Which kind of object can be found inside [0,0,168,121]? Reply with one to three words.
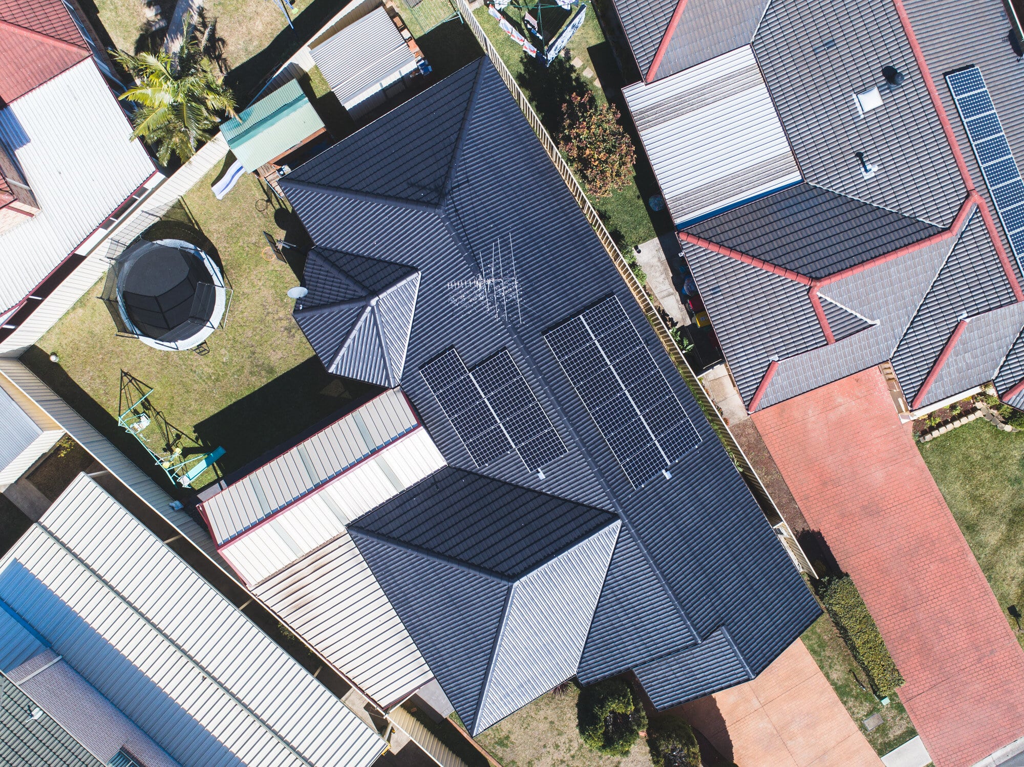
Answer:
house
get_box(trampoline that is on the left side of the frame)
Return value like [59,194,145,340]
[88,230,235,354]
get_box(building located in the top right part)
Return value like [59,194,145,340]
[606,0,1024,413]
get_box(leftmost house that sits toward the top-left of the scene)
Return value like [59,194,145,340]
[0,145,42,237]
